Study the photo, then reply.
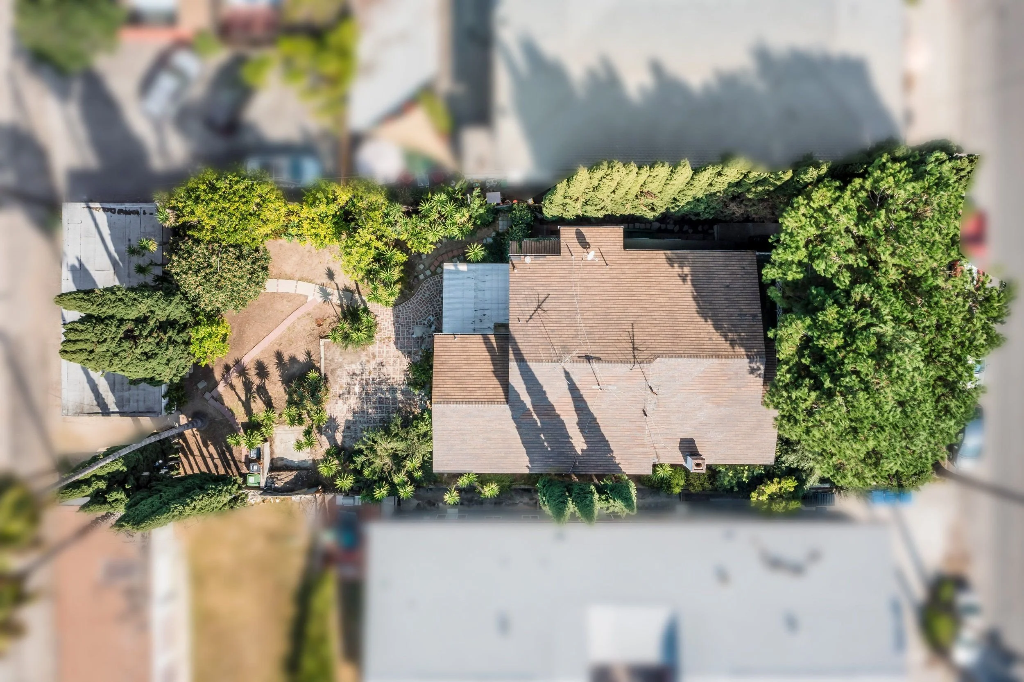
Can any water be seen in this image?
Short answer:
No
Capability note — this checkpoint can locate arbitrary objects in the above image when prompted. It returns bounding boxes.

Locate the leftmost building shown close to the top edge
[179,0,233,53]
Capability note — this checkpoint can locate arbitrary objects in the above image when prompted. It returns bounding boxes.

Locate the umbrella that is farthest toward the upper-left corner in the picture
[353,131,400,178]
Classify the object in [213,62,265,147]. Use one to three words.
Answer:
car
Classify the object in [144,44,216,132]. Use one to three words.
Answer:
car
